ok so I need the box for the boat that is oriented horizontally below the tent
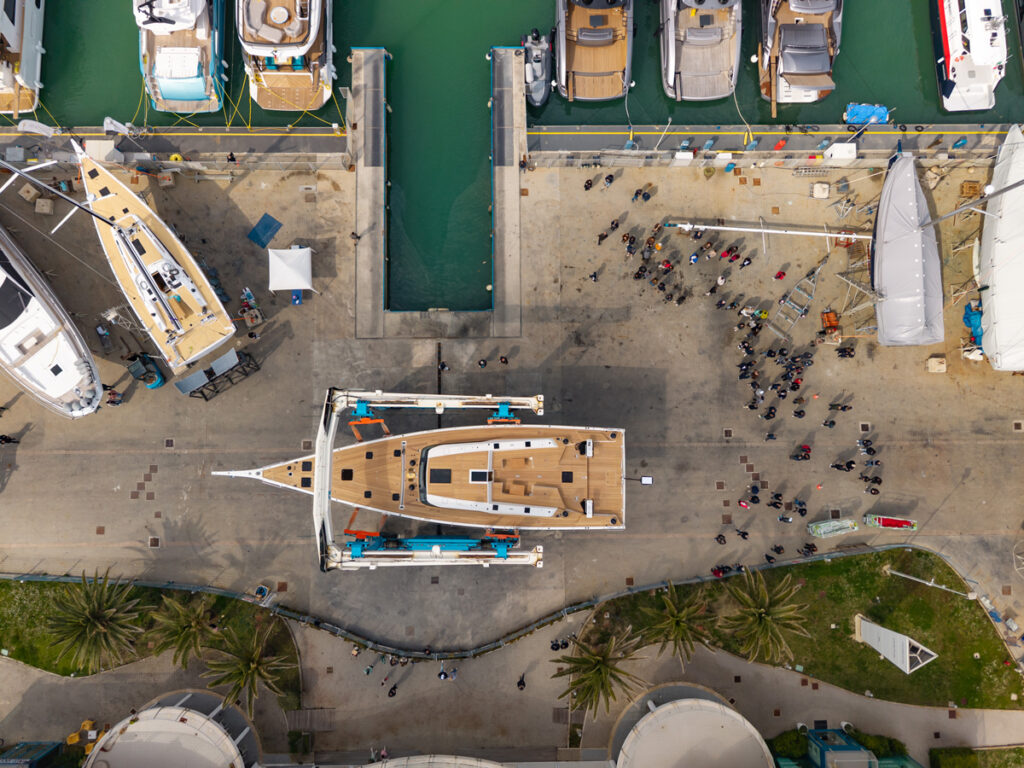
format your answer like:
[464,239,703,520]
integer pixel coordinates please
[211,425,652,529]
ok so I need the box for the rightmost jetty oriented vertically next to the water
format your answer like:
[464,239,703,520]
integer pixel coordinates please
[490,46,526,336]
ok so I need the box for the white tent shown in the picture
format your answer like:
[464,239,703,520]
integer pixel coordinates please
[269,247,322,299]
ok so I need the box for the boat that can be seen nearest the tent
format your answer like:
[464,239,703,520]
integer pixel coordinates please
[0,139,235,367]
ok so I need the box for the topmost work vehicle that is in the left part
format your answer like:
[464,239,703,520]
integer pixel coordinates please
[129,355,168,390]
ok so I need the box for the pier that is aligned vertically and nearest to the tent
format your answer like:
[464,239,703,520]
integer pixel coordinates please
[351,46,389,336]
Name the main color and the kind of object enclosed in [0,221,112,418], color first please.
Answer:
white boat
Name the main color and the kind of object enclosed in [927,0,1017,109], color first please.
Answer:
white boat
